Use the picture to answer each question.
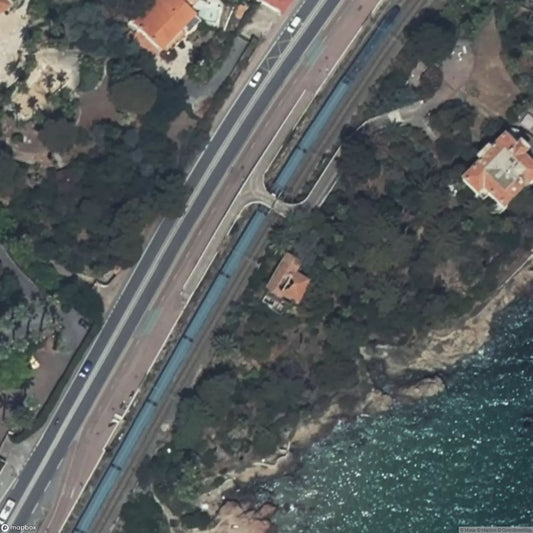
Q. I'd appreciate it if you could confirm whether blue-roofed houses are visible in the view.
No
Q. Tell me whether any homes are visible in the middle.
Yes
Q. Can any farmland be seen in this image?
No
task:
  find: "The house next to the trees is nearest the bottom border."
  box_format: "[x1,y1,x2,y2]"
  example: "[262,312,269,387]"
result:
[262,252,310,311]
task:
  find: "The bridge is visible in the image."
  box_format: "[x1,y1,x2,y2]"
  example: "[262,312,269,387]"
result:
[256,189,302,219]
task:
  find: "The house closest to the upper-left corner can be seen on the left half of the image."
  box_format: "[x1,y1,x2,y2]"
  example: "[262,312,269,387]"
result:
[128,0,202,54]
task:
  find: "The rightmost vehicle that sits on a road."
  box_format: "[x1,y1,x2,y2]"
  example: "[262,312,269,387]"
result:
[287,16,302,33]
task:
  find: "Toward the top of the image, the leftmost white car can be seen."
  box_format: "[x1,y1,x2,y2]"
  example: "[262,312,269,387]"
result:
[247,70,262,87]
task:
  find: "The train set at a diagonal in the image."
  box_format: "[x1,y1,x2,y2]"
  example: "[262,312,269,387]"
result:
[74,8,399,533]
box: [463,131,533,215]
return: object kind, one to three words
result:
house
